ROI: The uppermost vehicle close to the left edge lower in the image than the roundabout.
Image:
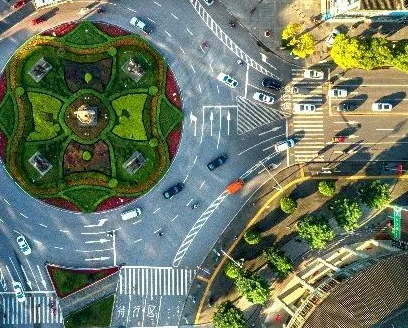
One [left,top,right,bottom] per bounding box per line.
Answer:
[15,232,32,256]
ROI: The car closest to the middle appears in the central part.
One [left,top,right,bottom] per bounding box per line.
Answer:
[206,152,229,172]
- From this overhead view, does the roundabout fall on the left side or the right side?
left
